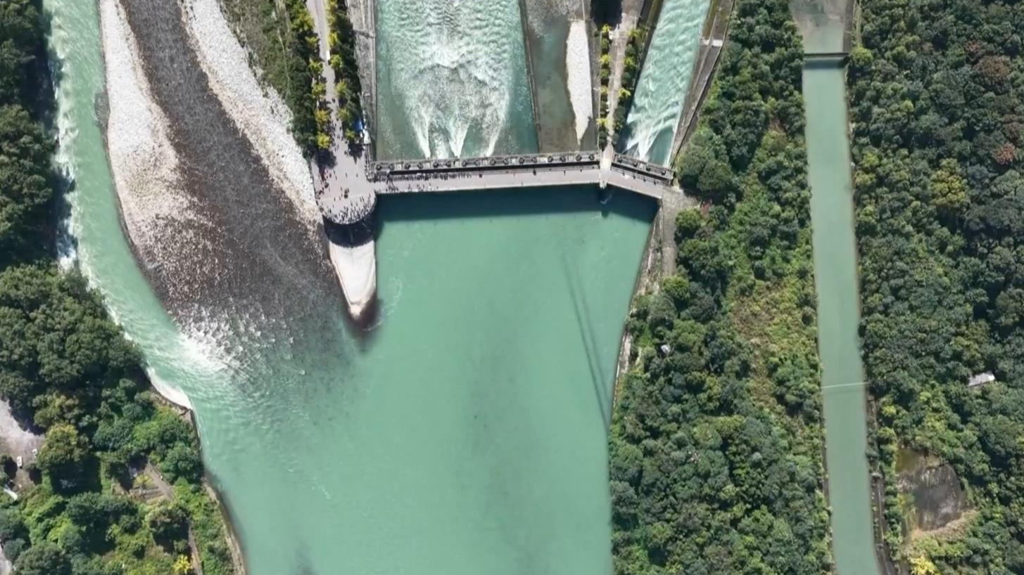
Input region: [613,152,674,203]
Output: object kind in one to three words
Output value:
bridge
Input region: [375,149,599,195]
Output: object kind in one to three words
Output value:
bridge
